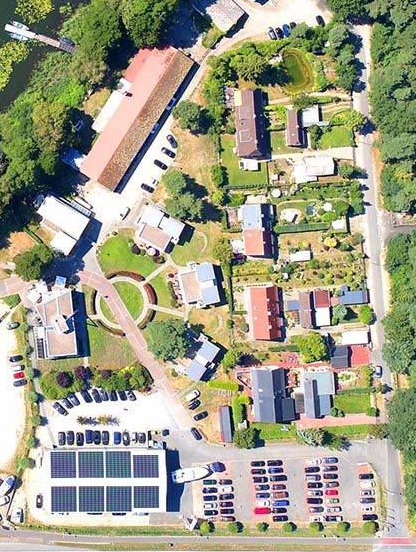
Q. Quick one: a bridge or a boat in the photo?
boat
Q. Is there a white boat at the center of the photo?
No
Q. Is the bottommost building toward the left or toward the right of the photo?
left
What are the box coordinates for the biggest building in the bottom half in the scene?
[46,442,167,513]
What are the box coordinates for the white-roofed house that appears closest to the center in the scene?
[180,261,220,305]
